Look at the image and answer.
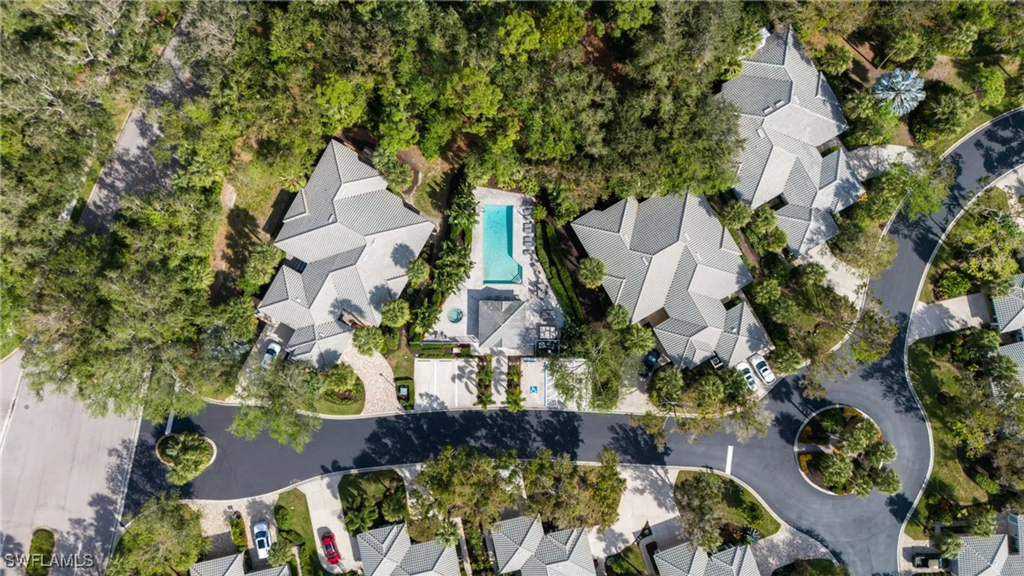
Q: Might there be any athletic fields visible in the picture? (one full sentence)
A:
No, I can't see a single athletic field in this photo.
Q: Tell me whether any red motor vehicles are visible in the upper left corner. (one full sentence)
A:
No, in the upper left corner there is no red motor vehicle.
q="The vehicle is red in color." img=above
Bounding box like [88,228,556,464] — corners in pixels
[319,531,340,568]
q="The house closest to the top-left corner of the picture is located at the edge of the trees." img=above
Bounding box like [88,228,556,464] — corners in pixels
[261,138,434,371]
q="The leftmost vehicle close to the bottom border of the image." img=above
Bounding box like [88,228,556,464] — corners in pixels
[249,522,270,561]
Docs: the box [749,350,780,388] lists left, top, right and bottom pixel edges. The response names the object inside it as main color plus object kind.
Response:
white car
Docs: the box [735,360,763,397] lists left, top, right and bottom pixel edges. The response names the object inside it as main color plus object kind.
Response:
white car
